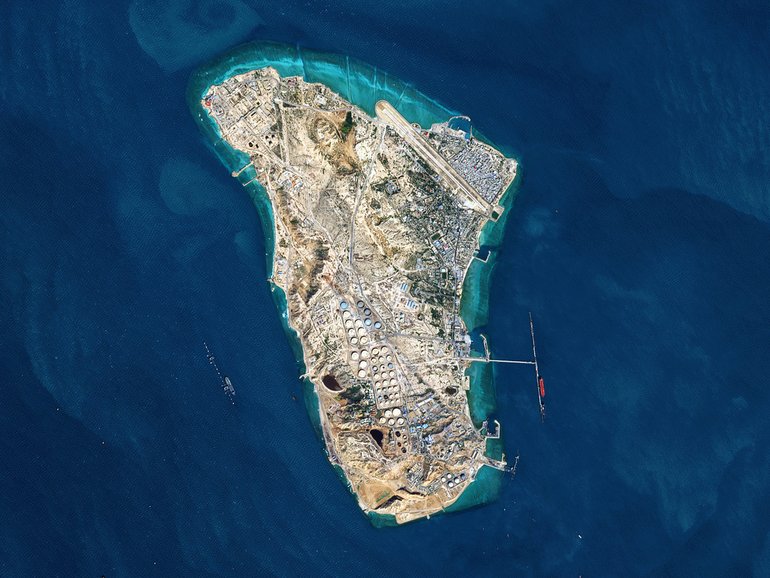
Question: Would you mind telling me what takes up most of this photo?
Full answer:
The bulk of the photo consists of water.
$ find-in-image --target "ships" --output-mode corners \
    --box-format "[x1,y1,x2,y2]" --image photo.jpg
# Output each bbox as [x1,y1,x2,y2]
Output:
[540,378,545,397]
[226,377,235,395]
